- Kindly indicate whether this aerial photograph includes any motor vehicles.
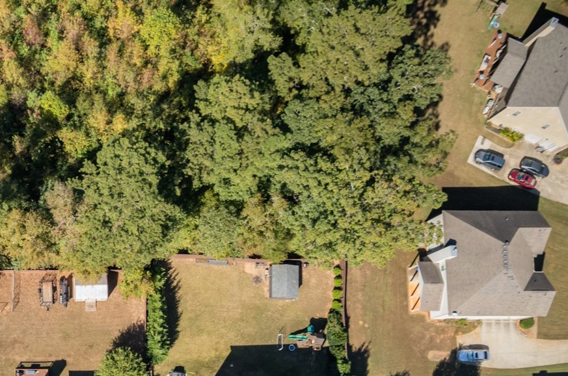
Yes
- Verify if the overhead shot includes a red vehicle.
Yes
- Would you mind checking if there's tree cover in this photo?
Yes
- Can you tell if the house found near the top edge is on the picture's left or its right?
right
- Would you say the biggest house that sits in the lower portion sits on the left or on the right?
right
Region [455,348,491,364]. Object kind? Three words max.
car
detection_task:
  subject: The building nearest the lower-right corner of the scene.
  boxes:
[413,210,556,317]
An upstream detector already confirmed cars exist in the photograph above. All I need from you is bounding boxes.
[517,158,551,178]
[472,149,507,171]
[506,170,538,189]
[455,348,491,364]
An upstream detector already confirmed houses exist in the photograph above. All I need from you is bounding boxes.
[413,210,556,317]
[486,13,568,134]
